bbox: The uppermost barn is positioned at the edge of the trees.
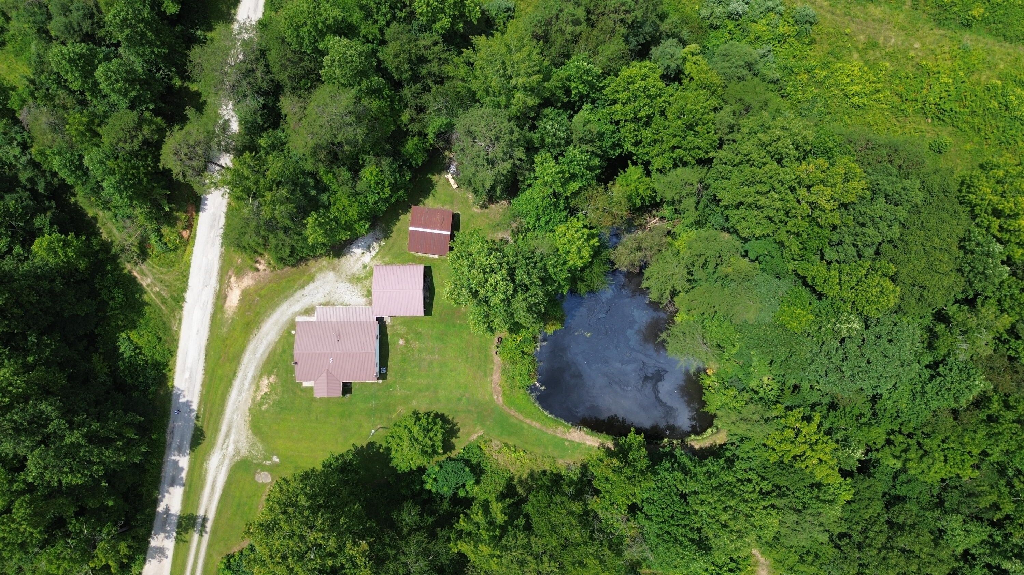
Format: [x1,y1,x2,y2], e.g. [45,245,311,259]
[408,205,452,256]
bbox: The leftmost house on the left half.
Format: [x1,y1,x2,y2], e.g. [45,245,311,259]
[292,307,380,397]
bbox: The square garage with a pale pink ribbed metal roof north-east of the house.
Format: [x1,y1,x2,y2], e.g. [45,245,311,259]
[372,265,424,316]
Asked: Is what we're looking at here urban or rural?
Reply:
rural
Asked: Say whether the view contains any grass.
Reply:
Yes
